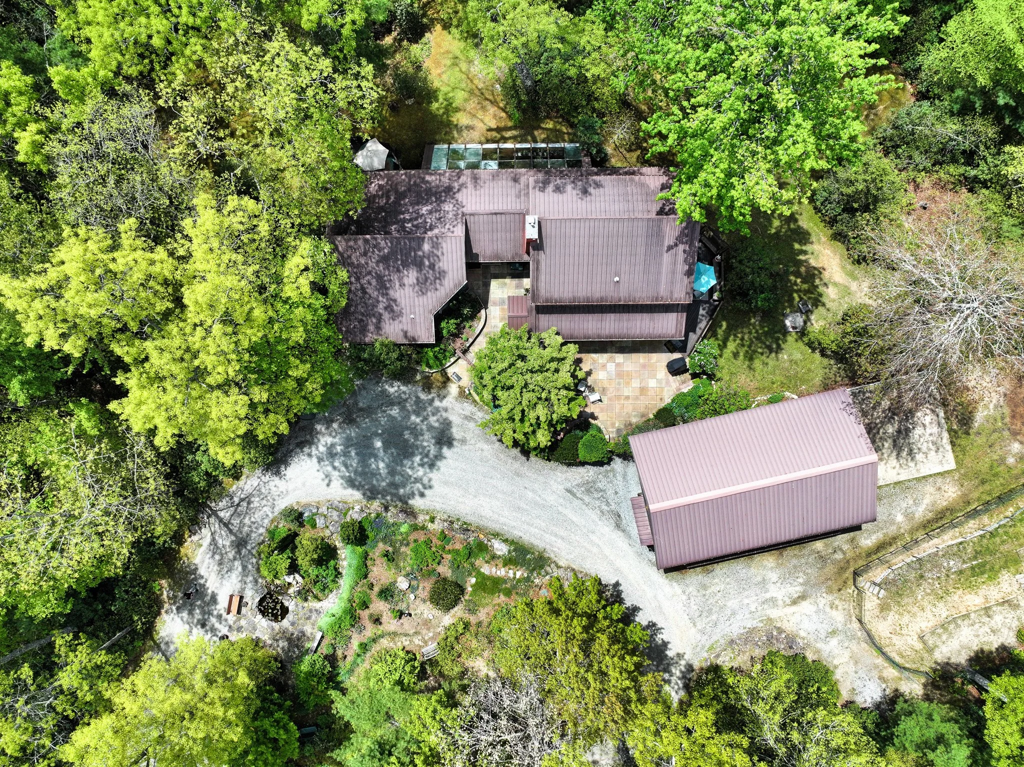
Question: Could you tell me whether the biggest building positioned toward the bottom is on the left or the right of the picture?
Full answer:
The biggest building positioned toward the bottom appears in the right half of the scene.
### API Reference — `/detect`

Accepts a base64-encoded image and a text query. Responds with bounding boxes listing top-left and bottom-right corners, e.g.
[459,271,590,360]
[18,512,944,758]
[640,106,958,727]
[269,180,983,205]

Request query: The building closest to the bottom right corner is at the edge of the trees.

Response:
[625,388,880,571]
